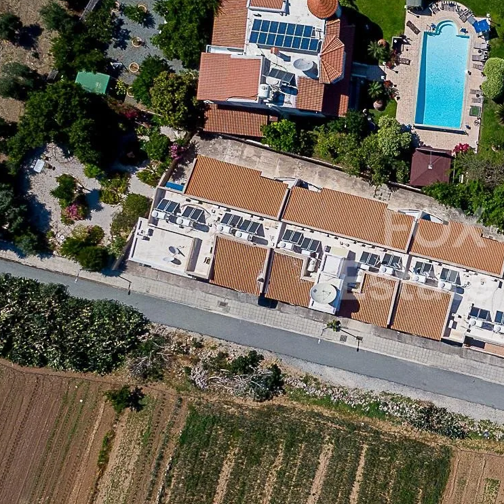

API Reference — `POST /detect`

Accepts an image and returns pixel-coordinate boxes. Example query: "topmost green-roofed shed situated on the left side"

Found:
[75,73,116,95]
